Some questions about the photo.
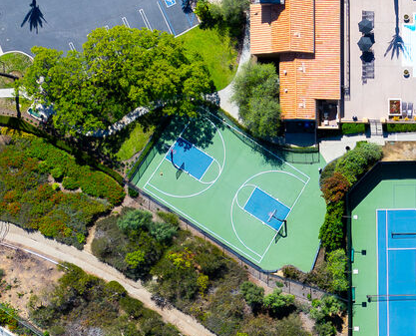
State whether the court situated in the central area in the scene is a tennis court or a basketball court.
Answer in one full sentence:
The court situated in the central area in the image is a basketball court.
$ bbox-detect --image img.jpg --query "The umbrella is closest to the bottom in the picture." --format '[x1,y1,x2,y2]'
[359,37,372,52]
